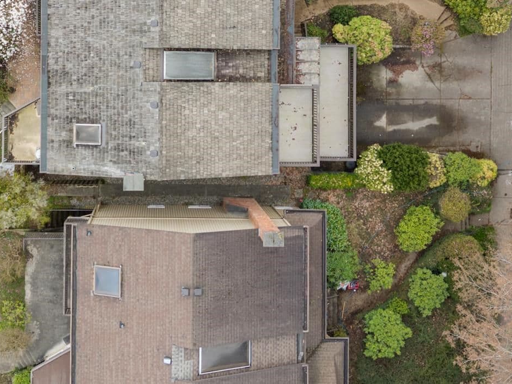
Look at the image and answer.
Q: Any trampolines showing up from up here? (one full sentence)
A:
No, there appears to be no trampoline in this shot.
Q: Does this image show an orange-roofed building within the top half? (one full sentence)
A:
No, there's no orange-roofed building to be seen within the top half.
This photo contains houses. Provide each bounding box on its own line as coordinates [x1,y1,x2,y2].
[70,197,348,384]
[40,0,295,191]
